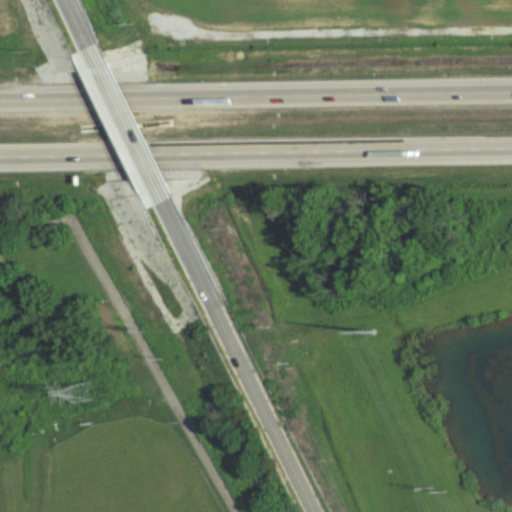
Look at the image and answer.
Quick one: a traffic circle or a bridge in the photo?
bridge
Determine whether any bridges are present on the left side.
Yes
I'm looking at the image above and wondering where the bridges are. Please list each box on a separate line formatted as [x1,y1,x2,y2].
[69,42,172,210]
